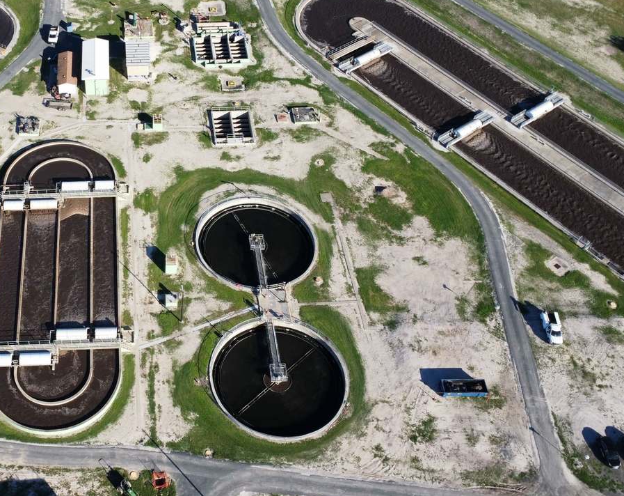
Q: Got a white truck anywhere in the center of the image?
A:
No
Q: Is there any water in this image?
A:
Yes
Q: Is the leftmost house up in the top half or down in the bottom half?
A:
top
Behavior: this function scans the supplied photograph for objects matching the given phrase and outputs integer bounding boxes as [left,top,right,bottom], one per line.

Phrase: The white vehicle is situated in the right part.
[538,307,569,347]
